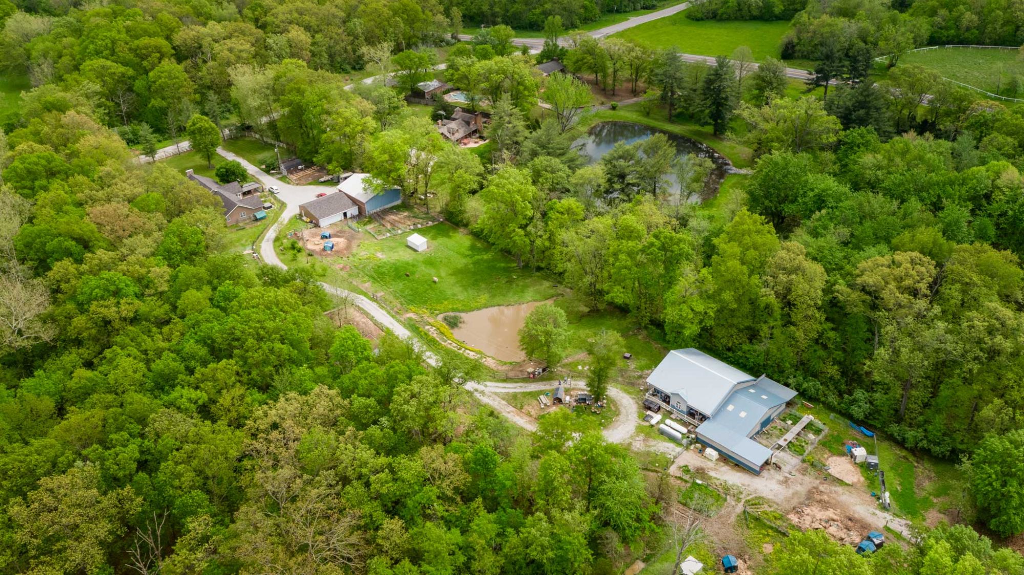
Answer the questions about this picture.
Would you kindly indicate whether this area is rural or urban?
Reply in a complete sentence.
This place is rural.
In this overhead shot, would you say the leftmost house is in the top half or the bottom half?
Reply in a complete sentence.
The leftmost house is in the top half of the image.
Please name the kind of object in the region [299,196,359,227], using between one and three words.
building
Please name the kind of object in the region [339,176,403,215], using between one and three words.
barn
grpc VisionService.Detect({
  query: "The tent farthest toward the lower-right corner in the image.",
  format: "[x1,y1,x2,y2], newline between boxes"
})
[677,555,710,575]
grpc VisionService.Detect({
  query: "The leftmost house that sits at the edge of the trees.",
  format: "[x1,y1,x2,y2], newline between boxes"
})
[182,174,264,225]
